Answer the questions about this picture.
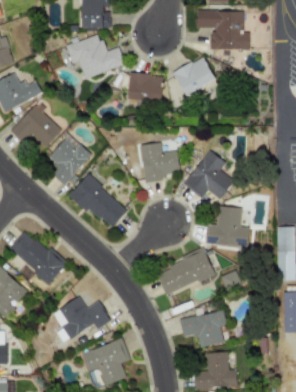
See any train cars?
No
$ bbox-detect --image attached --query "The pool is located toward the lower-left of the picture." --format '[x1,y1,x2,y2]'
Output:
[62,364,80,383]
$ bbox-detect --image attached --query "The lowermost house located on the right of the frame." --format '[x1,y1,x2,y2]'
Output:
[194,352,238,391]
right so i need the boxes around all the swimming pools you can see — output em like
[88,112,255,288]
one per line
[234,301,249,321]
[100,106,119,116]
[194,287,216,302]
[50,2,62,27]
[60,72,78,86]
[246,54,266,72]
[232,135,246,162]
[254,200,266,224]
[62,364,80,383]
[75,126,96,144]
